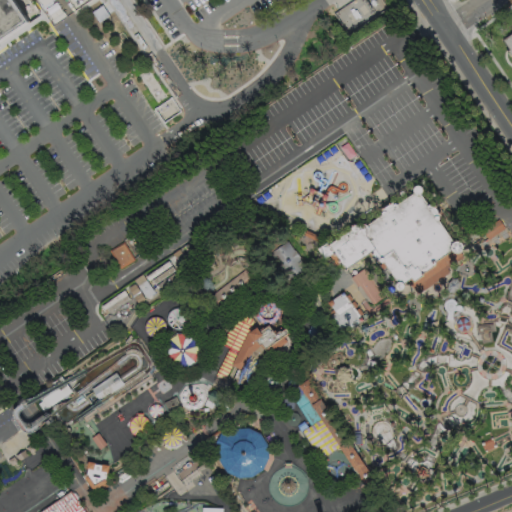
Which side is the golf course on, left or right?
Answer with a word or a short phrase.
right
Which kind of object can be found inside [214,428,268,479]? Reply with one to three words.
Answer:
building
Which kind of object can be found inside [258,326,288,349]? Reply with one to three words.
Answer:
building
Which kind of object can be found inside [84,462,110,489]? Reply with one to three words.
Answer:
house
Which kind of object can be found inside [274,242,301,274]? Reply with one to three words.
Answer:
house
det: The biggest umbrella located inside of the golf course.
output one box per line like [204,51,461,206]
[456,316,472,332]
